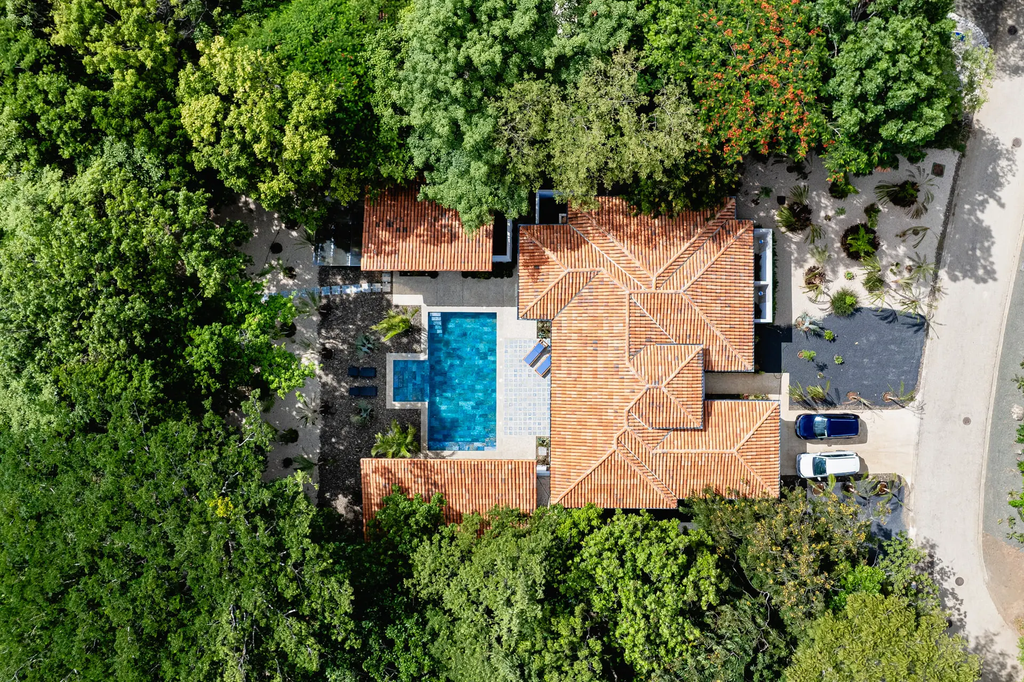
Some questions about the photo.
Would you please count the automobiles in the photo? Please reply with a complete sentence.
In total, there are 2 automobiles in the scene.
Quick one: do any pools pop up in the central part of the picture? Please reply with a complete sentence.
Yes, a pool appears in the central part of the picture.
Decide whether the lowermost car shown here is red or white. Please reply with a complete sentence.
In this view, the lowermost car is white.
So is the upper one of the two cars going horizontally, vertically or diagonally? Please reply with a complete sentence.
The upper one of the two cars has been laid out horizontally relative to the frame.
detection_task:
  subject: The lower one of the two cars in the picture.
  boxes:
[794,450,860,480]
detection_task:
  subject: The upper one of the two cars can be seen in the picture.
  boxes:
[793,412,860,442]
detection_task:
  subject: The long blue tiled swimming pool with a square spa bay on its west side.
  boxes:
[393,312,497,451]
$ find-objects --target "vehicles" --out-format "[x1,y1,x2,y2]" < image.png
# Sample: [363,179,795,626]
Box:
[794,450,860,480]
[793,412,860,442]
